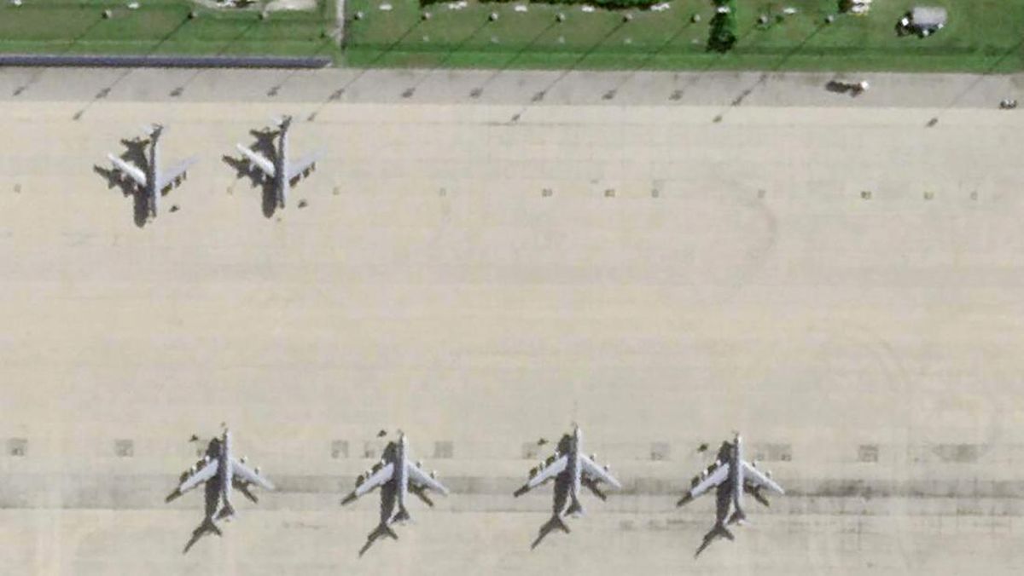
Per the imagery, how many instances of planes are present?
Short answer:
6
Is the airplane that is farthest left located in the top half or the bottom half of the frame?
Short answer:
top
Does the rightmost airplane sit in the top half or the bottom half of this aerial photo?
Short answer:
bottom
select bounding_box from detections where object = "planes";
[108,125,201,217]
[181,431,274,520]
[531,427,624,519]
[237,116,330,207]
[357,435,450,524]
[693,435,786,524]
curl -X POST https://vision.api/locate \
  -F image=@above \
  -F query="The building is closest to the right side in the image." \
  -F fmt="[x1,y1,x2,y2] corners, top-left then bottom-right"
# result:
[910,7,946,25]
